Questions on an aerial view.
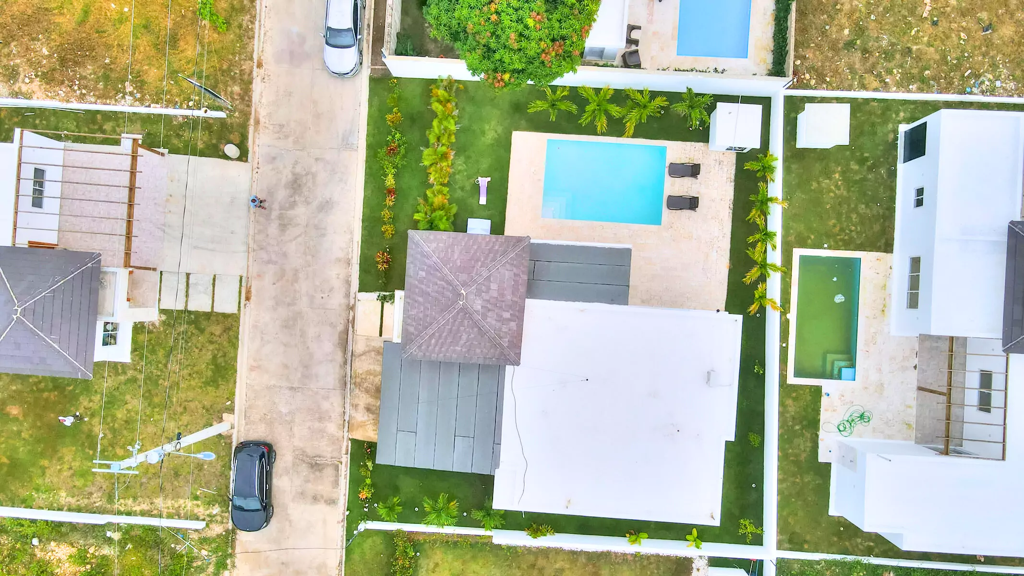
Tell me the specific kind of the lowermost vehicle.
automobile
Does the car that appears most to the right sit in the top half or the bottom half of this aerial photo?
top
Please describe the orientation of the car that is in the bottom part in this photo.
up and down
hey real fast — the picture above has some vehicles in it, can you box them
[225,439,274,532]
[317,0,365,77]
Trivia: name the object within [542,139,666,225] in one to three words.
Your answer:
swimming pool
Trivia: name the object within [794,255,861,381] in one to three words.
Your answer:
swimming pool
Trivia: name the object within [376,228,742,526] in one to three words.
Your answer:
house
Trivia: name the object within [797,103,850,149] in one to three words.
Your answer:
shed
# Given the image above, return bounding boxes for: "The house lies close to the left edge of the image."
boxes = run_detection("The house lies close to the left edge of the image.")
[0,129,159,381]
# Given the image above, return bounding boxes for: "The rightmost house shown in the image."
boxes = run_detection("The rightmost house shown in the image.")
[825,109,1024,560]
